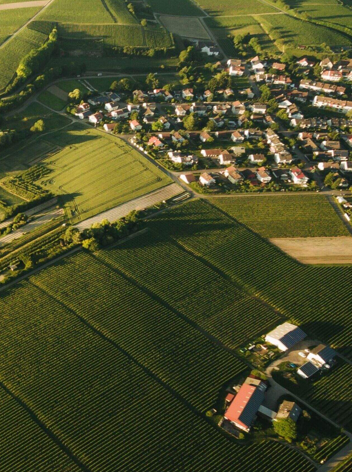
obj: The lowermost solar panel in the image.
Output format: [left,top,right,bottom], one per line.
[240,388,263,427]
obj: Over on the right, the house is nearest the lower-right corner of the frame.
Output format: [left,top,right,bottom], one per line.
[274,401,303,424]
